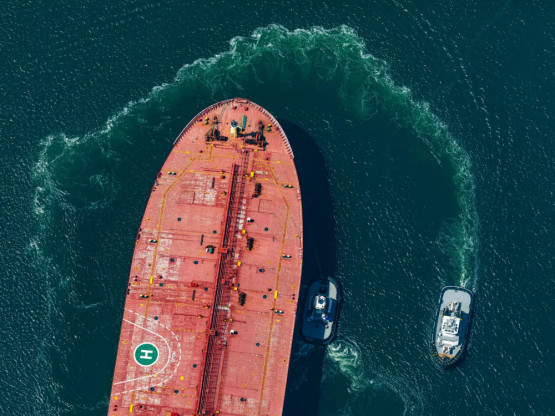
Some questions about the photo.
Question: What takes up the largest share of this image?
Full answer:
The scene is dominated by water.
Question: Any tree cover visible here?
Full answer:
No, tree cover can't be seen anywhere here.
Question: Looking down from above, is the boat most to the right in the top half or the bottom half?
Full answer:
Seen from above, the boat most to the right lies in the bottom half of the view.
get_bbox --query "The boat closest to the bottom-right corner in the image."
[432,284,474,369]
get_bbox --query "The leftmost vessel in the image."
[107,96,303,416]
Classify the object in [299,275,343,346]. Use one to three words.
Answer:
boat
